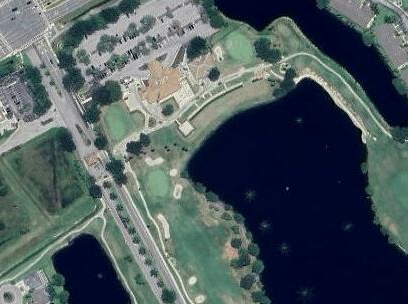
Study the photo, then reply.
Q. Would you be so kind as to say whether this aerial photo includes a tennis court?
No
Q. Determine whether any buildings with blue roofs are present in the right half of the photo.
No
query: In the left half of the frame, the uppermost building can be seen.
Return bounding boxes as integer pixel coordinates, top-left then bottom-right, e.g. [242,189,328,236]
[138,59,184,106]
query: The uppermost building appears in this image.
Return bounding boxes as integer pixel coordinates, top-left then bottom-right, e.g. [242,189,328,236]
[327,0,375,28]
